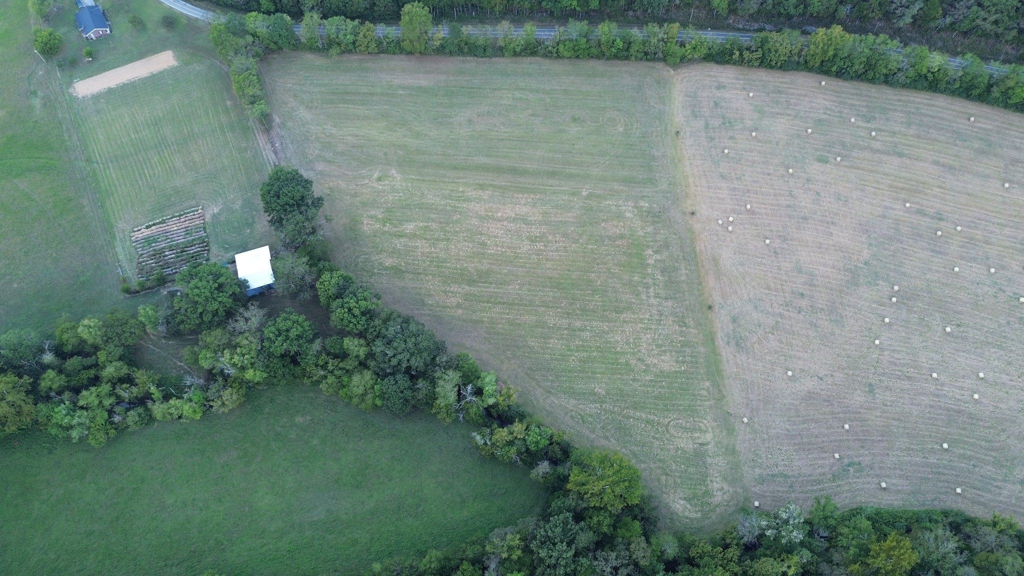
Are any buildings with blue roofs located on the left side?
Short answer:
Yes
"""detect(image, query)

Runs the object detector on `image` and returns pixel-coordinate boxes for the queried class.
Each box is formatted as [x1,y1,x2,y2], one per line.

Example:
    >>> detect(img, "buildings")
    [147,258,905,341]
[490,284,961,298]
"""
[76,5,111,41]
[235,245,277,297]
